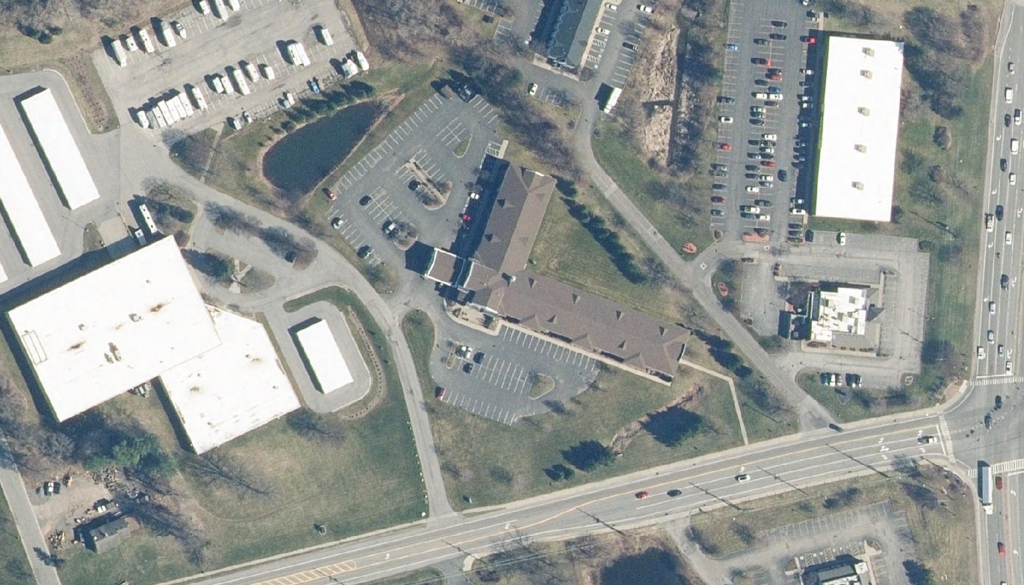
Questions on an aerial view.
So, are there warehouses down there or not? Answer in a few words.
Yes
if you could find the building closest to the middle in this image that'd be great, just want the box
[425,163,691,377]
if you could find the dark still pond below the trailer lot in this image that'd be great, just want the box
[263,99,387,195]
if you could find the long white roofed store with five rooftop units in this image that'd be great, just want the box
[815,36,904,222]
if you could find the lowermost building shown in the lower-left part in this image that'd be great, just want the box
[89,518,135,554]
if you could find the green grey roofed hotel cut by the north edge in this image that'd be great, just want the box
[544,0,603,73]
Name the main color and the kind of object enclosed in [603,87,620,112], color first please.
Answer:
white vehicle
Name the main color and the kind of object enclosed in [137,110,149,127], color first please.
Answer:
white vehicle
